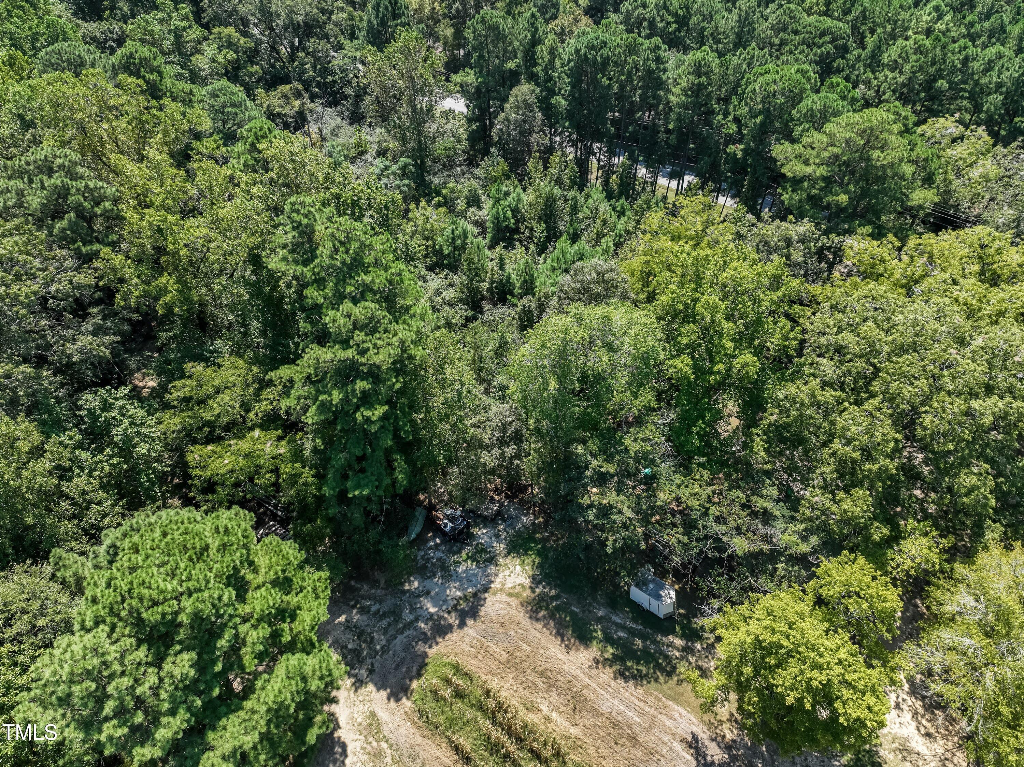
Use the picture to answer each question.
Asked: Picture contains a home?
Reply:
No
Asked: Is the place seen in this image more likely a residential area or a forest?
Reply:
forest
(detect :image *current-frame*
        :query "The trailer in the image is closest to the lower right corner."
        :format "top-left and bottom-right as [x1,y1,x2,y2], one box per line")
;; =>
[630,569,686,621]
